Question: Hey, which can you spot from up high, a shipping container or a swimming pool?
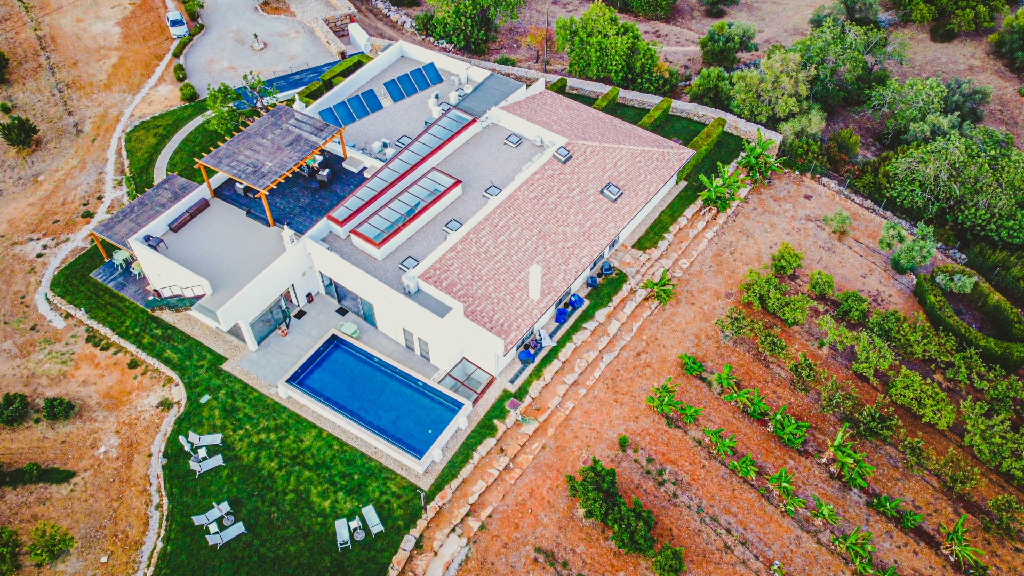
swimming pool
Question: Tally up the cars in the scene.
one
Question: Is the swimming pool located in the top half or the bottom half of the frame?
bottom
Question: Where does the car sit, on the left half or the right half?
left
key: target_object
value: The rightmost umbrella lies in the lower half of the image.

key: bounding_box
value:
[354,517,366,540]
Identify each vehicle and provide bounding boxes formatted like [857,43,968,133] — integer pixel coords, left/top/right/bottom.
[162,7,190,36]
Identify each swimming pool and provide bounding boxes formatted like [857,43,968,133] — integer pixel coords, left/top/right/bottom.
[277,329,472,473]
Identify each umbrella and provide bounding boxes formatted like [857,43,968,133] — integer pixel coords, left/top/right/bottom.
[354,517,366,540]
[180,441,202,460]
[215,504,235,526]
